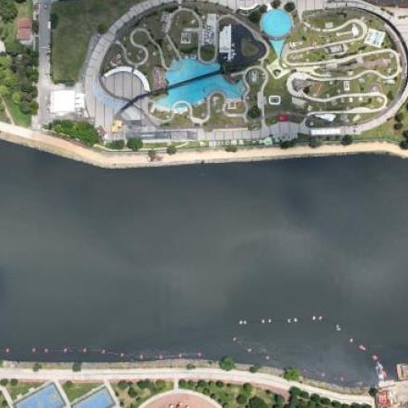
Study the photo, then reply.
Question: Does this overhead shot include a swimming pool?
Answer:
Yes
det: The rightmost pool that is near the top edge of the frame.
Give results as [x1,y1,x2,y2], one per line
[260,5,293,57]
